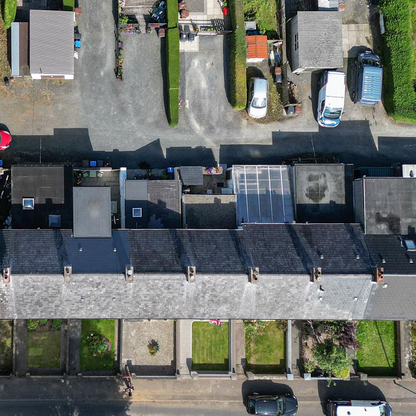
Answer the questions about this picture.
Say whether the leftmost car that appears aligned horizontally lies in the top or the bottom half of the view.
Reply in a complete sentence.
The leftmost car that appears aligned horizontally sits in the bottom half of the picture.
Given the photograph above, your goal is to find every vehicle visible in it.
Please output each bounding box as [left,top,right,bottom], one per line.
[316,68,345,126]
[244,77,270,121]
[0,129,11,151]
[244,391,295,416]
[352,50,381,104]
[324,397,386,416]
